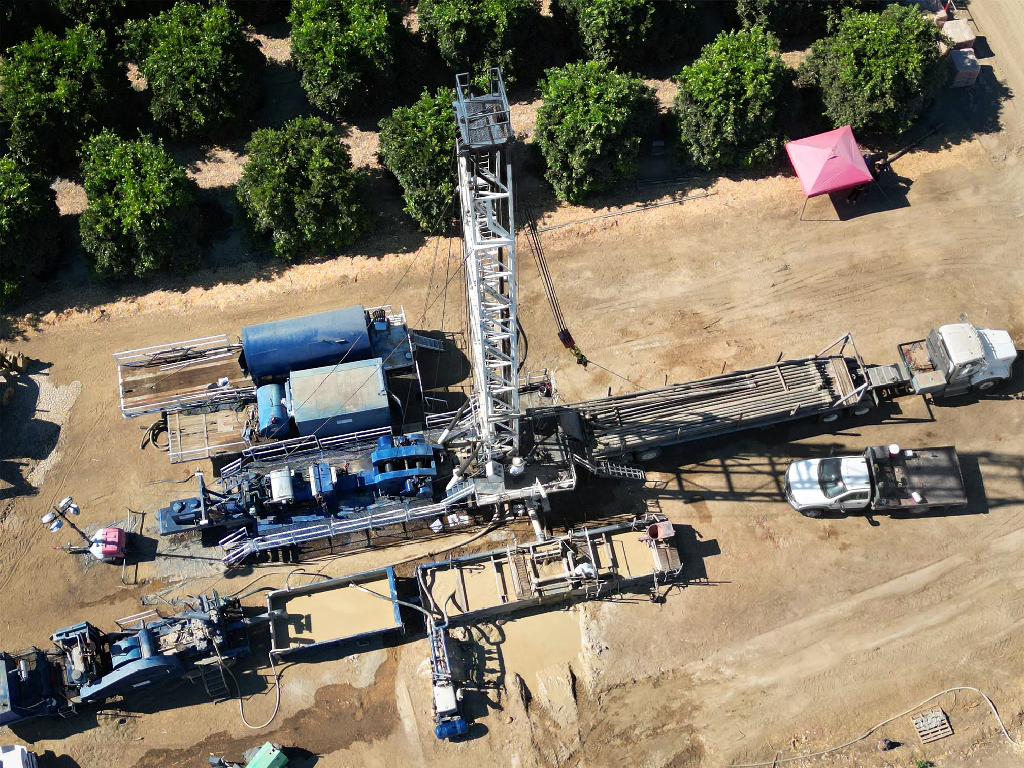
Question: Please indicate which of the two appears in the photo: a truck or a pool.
truck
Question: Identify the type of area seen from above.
industrial area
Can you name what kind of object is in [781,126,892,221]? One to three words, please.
tent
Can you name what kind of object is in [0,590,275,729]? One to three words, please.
trailer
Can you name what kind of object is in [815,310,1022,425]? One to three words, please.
truck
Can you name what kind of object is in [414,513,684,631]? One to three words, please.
storage tank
